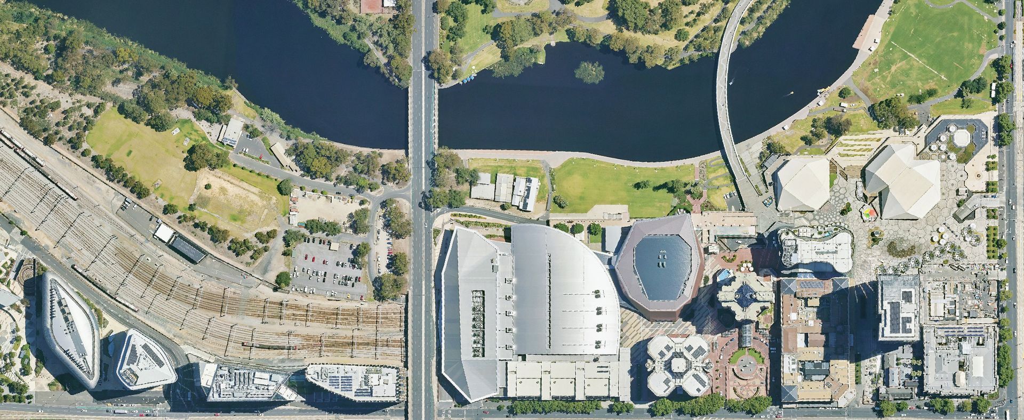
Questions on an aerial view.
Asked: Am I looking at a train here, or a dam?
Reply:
train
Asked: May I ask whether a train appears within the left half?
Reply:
Yes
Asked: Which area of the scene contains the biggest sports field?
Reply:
left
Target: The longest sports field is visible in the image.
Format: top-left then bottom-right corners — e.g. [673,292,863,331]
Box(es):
[87,107,291,240]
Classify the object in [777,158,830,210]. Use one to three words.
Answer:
building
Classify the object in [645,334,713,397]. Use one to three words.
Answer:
building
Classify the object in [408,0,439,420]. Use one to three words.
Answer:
bridge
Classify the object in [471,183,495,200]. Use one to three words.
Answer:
shed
